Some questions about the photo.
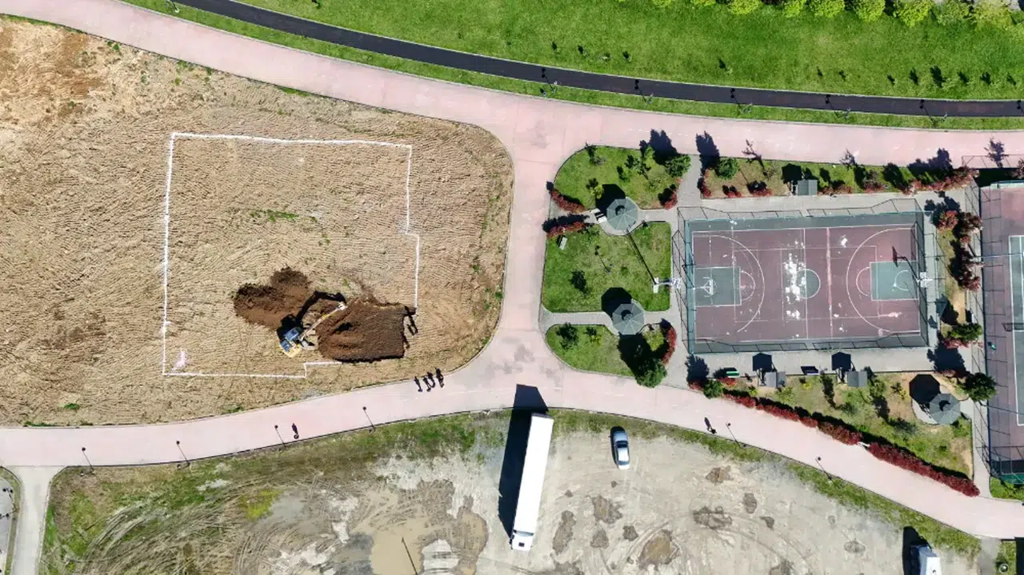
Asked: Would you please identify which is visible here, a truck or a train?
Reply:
truck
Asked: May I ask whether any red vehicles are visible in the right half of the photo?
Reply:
No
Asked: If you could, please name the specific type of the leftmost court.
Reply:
basketball court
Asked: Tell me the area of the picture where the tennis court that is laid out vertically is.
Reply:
right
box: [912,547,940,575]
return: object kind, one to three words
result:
van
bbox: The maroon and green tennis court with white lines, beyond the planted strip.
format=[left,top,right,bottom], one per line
[979,184,1024,478]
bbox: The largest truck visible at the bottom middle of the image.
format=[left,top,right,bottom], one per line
[508,408,554,550]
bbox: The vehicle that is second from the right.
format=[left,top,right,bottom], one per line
[611,427,630,468]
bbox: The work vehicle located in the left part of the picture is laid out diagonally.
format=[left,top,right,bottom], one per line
[276,305,344,358]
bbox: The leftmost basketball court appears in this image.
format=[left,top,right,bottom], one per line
[685,211,928,355]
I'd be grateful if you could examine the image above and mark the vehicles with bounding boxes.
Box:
[912,547,940,575]
[611,427,630,468]
[508,408,554,550]
[276,305,344,358]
